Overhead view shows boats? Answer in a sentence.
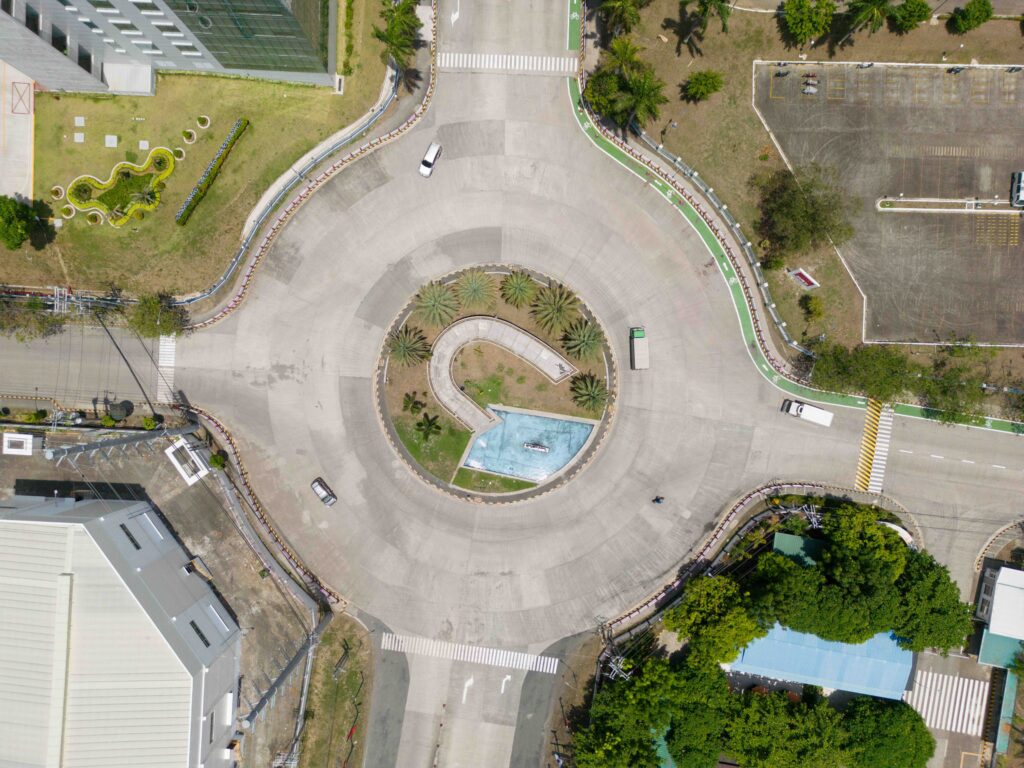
No, the photo shows no boat.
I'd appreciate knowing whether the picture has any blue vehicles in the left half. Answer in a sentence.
No, I can find no blue vehicle in the left half.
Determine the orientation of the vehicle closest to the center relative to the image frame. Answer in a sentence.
The vehicle closest to the center runs up and down in the image.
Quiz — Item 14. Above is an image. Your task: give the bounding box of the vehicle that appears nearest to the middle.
[630,327,650,370]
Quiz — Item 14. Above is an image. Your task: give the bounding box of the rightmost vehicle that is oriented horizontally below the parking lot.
[779,397,836,425]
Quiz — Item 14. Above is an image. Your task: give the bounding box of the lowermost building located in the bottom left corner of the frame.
[0,499,252,768]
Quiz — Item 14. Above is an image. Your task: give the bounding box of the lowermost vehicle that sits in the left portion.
[310,475,338,507]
